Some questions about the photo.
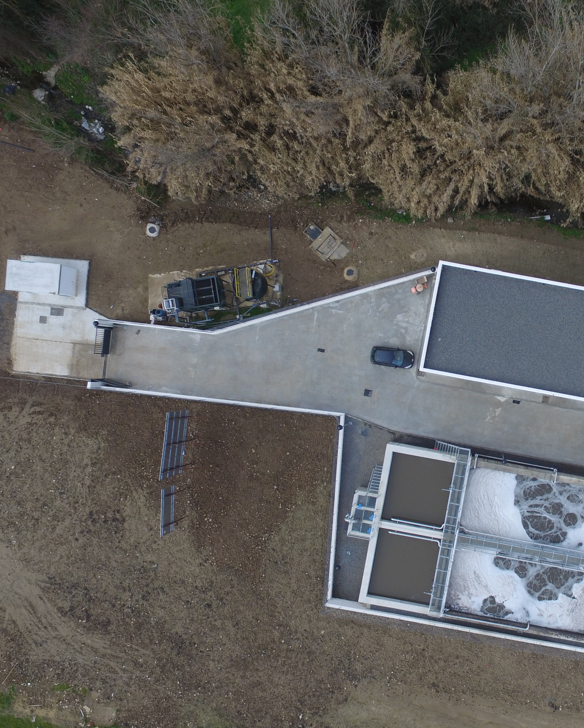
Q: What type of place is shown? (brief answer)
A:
industrial area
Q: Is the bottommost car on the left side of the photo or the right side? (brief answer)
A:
right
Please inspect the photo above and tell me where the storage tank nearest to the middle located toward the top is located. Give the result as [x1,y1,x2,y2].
[225,266,274,307]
